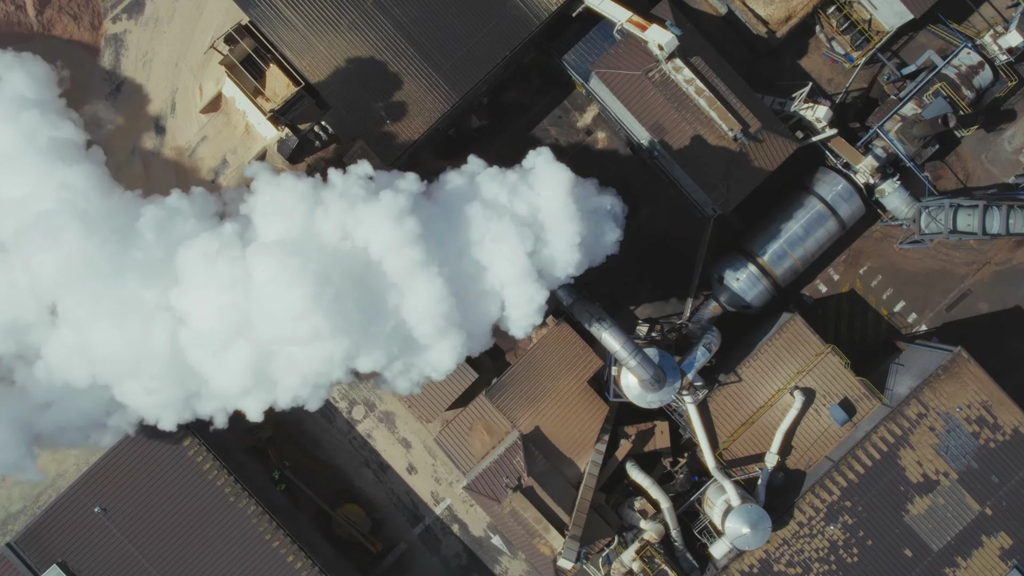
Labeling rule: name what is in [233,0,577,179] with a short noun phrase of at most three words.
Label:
shed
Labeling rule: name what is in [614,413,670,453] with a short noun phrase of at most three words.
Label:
house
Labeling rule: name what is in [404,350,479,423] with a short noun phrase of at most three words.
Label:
building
